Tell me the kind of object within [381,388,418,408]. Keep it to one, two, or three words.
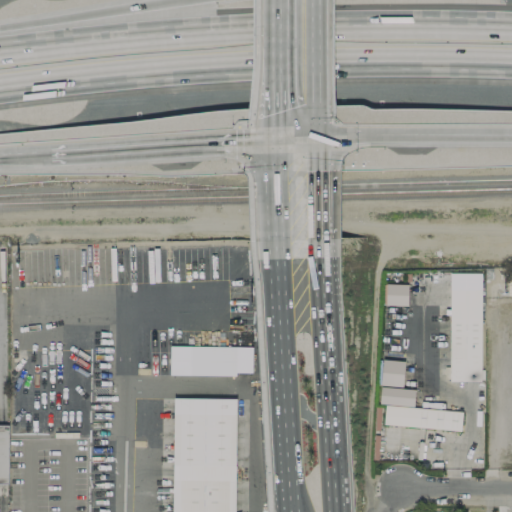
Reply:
building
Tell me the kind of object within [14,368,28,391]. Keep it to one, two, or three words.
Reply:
vehicle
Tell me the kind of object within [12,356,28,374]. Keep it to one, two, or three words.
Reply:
vehicle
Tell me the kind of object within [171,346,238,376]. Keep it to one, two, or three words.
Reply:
building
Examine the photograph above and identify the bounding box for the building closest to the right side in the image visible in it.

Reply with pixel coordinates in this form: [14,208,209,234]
[452,274,484,382]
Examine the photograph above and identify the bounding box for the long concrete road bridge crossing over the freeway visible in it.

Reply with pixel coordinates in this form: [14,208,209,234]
[249,0,336,106]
